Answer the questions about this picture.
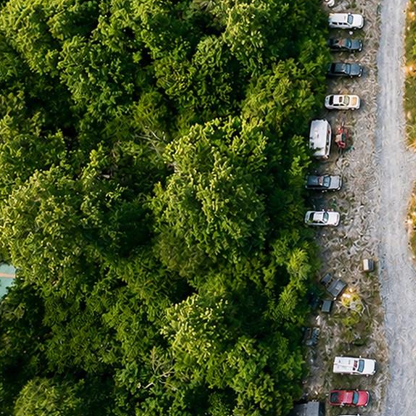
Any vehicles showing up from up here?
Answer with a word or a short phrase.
Yes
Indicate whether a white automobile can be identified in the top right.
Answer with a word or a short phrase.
Yes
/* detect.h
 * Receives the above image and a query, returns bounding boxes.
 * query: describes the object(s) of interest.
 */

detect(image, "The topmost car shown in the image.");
[328,12,365,29]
